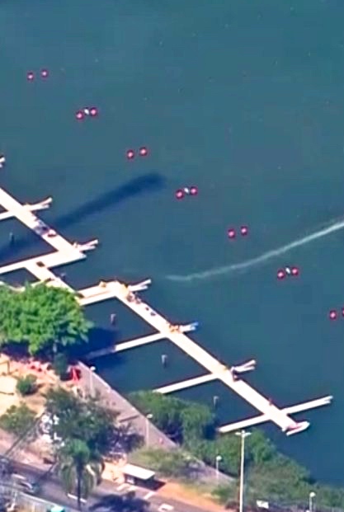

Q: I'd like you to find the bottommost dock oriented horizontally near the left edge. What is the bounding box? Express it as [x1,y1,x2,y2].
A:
[0,249,87,272]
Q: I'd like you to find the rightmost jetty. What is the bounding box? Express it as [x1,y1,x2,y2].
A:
[287,396,334,415]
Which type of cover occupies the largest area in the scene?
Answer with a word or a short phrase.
water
